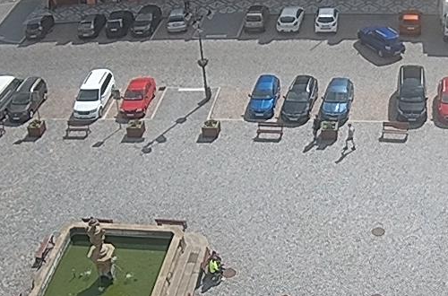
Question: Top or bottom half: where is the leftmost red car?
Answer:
top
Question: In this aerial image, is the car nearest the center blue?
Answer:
Yes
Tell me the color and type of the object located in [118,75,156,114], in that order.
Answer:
red car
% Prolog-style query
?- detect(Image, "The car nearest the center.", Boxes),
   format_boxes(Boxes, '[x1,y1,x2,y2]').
[246,74,282,114]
